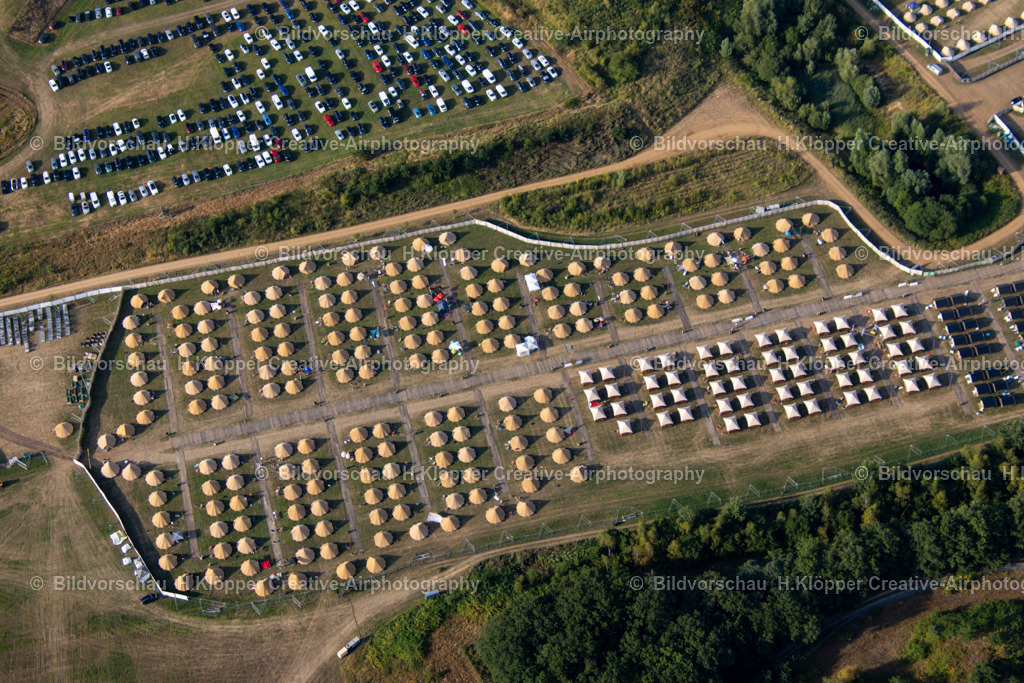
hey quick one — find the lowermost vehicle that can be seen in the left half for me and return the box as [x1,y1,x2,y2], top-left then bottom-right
[336,635,362,658]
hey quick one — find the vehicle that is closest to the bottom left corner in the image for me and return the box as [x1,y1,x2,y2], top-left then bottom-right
[139,591,159,604]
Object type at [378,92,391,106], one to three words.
vehicle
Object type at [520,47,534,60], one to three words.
vehicle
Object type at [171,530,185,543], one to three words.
gazebo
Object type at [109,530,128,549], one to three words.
gazebo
